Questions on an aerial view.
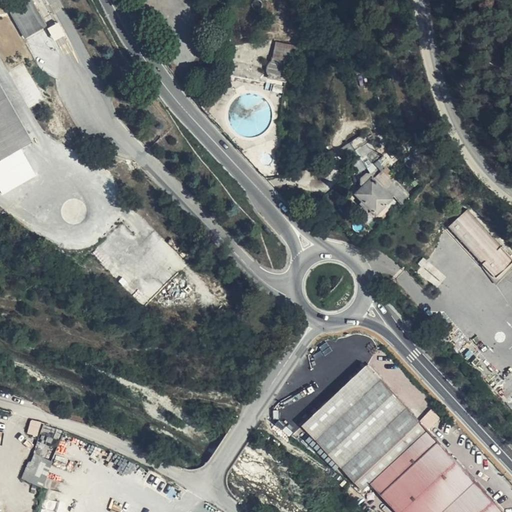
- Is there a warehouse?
Yes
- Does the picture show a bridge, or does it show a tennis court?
bridge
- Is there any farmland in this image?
No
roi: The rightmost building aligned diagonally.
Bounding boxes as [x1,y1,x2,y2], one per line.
[449,210,512,277]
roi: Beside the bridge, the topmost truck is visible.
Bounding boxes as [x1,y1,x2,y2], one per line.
[273,387,312,410]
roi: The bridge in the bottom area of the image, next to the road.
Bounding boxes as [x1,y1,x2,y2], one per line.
[180,407,264,504]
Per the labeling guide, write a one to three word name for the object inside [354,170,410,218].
house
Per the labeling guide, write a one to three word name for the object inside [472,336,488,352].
vehicle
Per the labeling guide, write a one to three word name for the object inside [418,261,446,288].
building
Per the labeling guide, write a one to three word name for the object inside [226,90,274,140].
swimming pool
